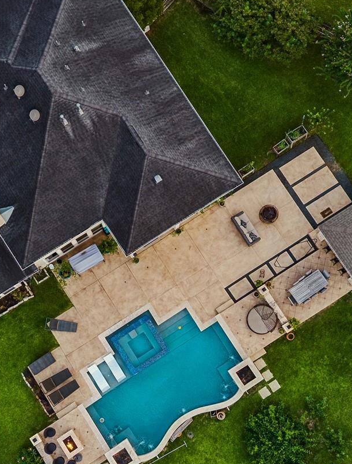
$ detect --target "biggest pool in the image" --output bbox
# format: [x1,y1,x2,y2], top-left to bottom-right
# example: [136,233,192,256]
[78,301,248,461]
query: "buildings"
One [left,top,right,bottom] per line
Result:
[313,204,352,288]
[0,0,243,303]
